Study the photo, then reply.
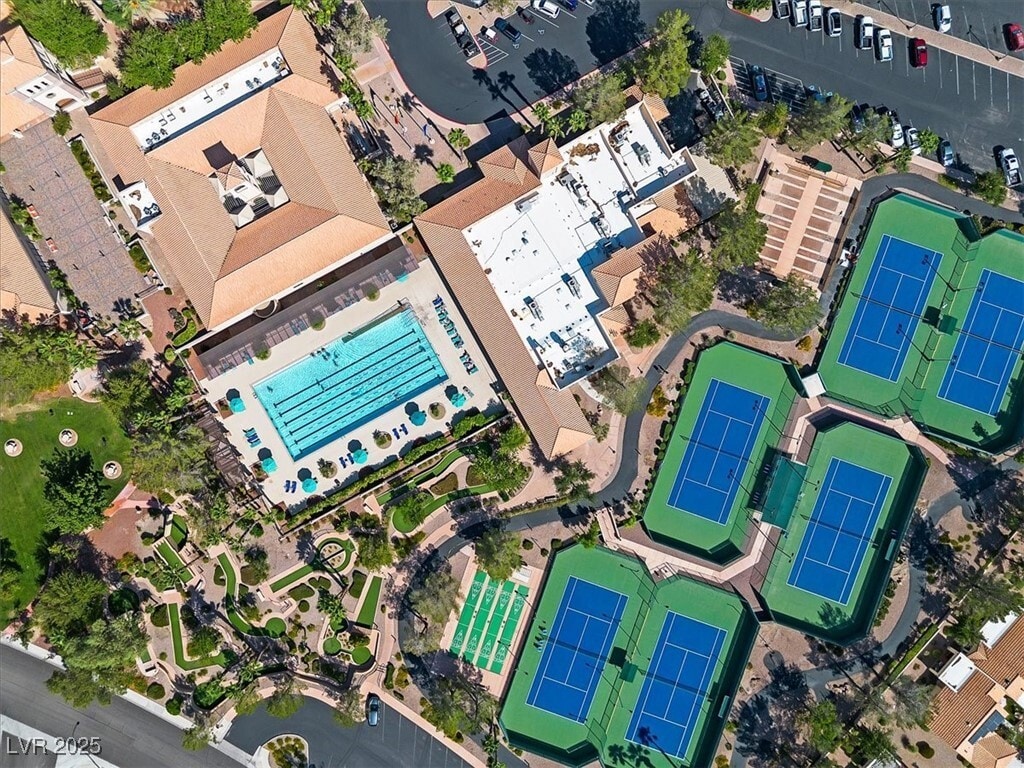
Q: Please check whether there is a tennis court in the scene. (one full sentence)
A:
Yes, the image includes a tennis court.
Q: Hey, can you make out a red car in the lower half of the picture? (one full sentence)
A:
No, no red car appears in the lower half of the picture.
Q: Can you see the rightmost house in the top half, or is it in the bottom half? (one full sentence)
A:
The rightmost house sits in the bottom half of the picture.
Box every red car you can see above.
[1007,23,1024,52]
[911,40,927,68]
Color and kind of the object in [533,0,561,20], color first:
white car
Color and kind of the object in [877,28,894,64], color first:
white vehicle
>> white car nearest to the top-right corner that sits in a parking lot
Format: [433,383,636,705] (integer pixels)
[936,4,952,33]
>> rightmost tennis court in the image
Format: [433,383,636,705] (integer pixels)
[912,233,1024,453]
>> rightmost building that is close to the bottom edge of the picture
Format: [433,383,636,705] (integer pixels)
[926,602,1024,768]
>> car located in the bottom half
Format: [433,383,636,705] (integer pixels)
[368,696,380,725]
